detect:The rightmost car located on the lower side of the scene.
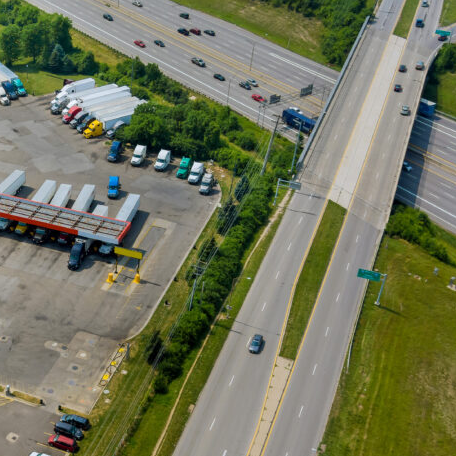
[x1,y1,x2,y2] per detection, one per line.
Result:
[246,331,265,353]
